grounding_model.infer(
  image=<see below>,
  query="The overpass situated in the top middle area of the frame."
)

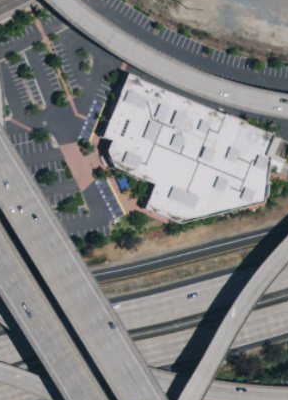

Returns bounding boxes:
[43,0,288,119]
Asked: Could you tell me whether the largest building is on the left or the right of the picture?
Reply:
right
